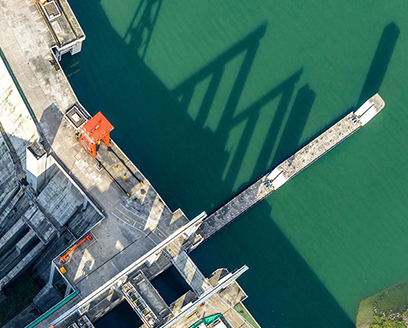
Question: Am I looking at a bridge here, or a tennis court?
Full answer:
Visible in the photo is a bridge.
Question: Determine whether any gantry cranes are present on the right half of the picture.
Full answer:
No, I can find no gantry crane on the right half of the picture.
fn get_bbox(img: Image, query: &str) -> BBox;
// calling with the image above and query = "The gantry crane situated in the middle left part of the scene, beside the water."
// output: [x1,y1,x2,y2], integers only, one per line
[77,107,119,161]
